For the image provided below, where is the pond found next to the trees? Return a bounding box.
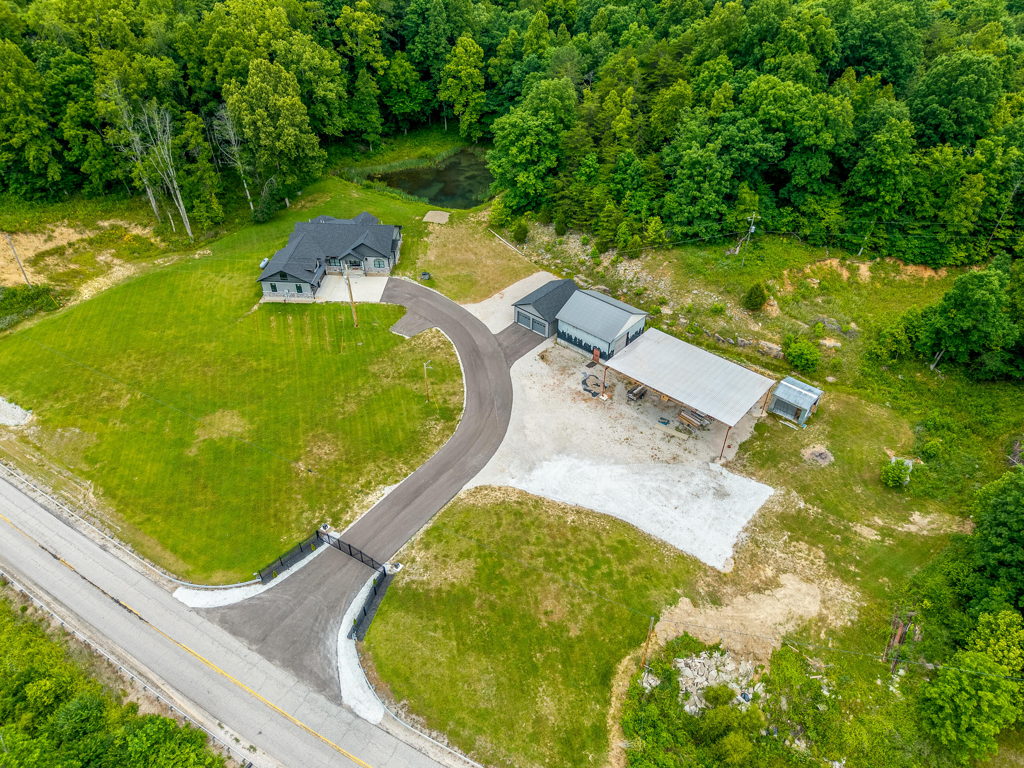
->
[369,149,502,206]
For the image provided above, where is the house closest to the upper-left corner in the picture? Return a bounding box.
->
[256,211,407,301]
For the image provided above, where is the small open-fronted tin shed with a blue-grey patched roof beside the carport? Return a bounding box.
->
[769,377,826,426]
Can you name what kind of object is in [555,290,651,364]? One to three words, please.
barn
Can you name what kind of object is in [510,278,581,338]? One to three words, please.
building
